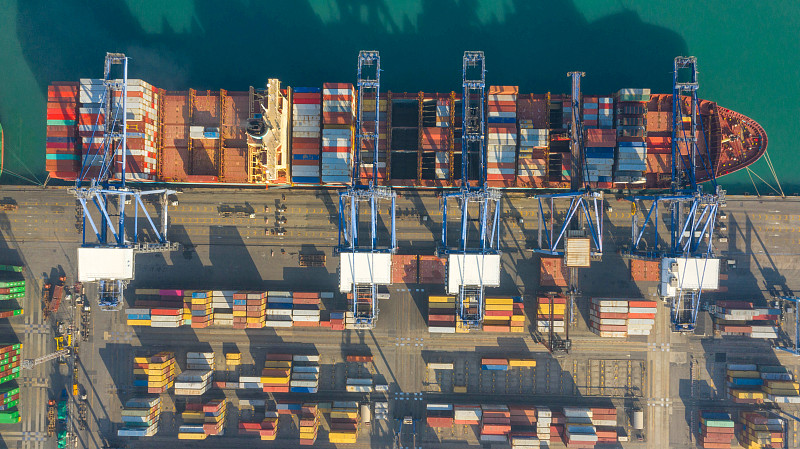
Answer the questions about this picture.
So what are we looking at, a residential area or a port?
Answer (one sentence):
It's a port.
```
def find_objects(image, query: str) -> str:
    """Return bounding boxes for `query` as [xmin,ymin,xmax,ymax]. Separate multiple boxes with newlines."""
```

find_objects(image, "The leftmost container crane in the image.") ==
[70,54,184,310]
